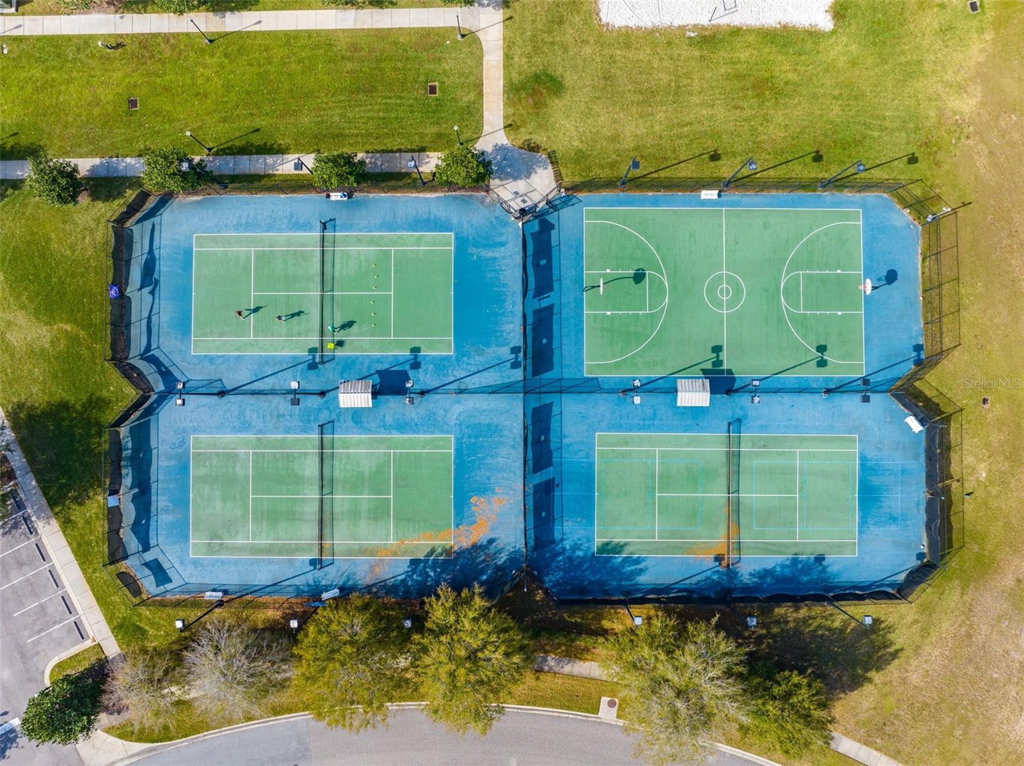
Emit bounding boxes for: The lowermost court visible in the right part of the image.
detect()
[524,393,928,599]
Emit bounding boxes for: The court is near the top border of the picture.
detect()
[600,0,834,31]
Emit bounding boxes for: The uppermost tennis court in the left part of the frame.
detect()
[125,193,524,393]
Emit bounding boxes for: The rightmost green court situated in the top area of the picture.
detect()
[523,193,924,392]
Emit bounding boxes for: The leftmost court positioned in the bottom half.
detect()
[121,393,524,599]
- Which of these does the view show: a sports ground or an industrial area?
sports ground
